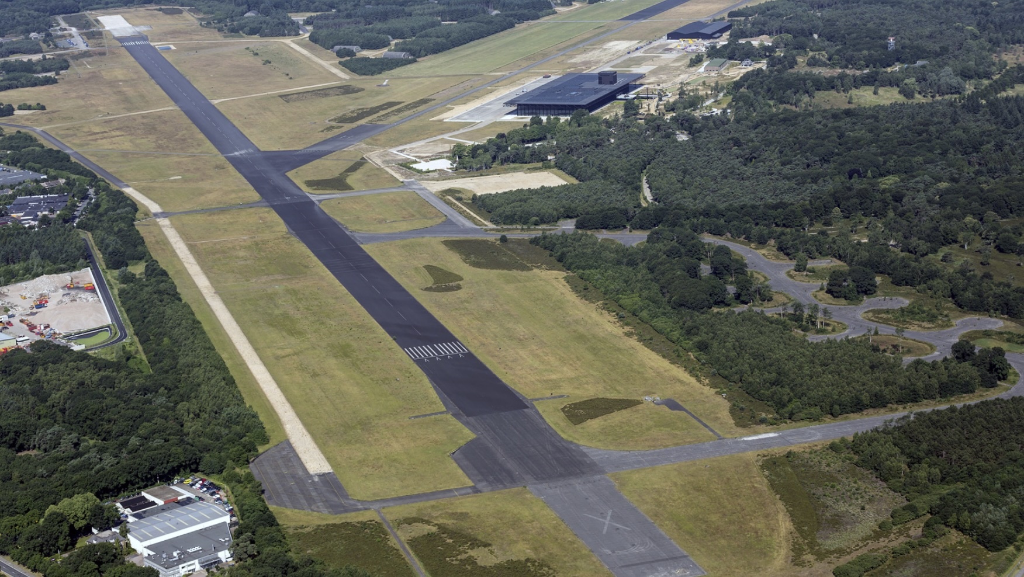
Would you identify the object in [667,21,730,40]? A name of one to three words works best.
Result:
hangar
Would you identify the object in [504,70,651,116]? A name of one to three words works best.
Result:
building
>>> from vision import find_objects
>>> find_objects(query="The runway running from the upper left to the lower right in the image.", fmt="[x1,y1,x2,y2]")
[114,35,530,416]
